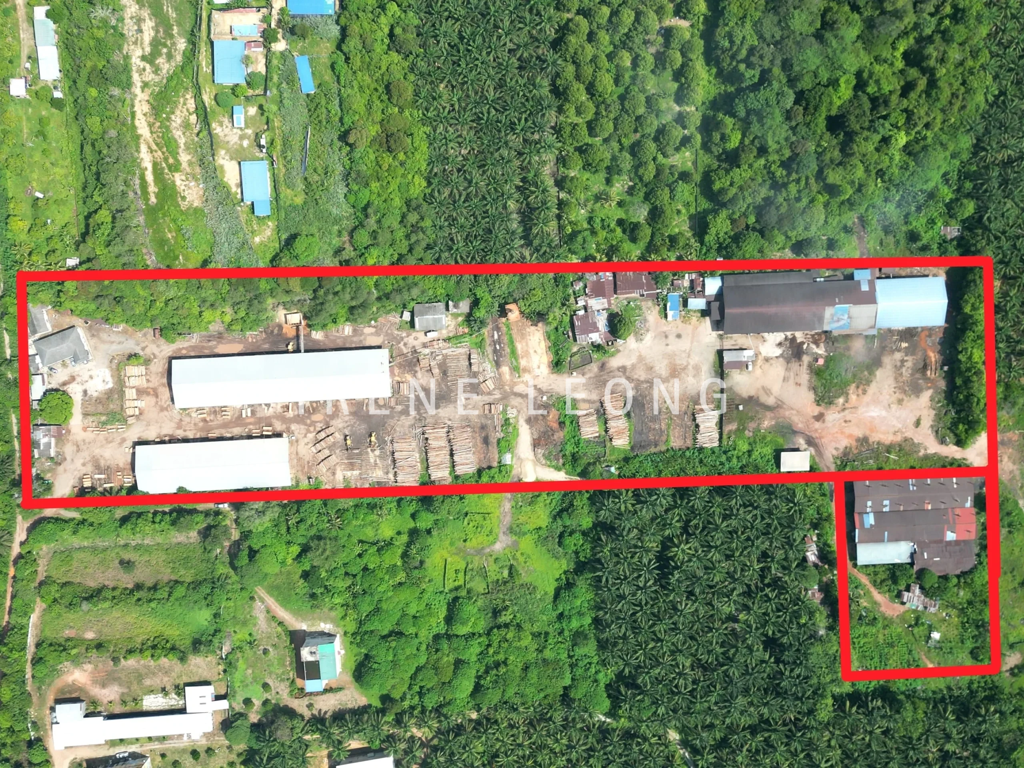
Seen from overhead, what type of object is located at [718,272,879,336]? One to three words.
shed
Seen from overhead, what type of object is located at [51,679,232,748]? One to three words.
building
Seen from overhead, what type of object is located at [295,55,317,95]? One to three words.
house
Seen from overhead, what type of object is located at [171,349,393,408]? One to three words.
shed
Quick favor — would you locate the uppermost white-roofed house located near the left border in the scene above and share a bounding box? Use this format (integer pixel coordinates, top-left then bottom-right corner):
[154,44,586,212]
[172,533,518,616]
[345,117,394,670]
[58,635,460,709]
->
[34,5,65,83]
